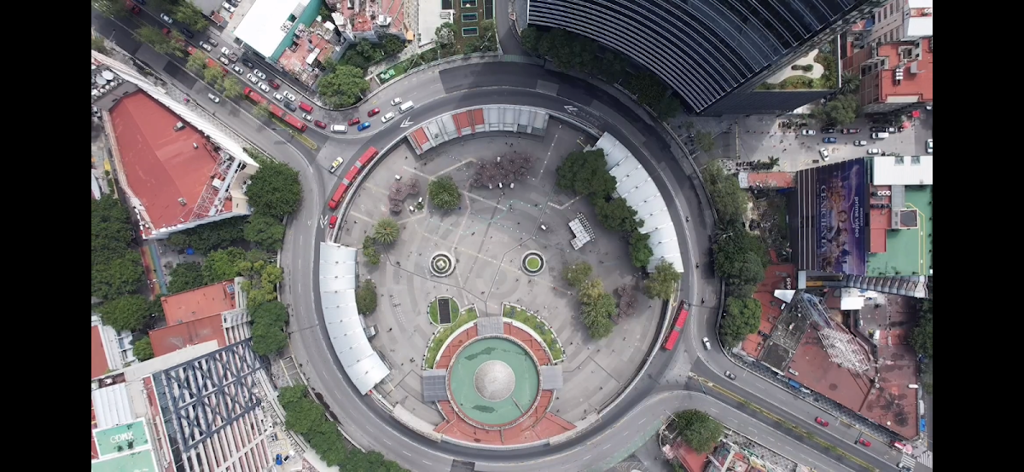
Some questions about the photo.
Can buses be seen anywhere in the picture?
Yes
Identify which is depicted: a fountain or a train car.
fountain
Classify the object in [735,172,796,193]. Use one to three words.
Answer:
house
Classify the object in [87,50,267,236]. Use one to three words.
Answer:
building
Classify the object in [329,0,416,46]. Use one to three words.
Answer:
building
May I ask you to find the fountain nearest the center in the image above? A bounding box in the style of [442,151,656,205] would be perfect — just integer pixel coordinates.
[520,250,545,275]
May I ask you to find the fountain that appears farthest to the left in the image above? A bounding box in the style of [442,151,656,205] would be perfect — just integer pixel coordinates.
[429,251,455,277]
